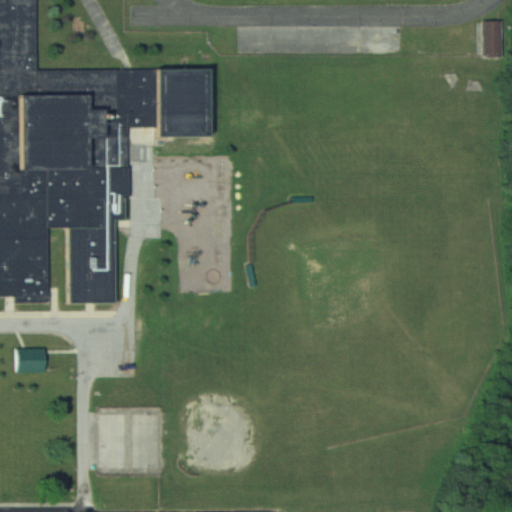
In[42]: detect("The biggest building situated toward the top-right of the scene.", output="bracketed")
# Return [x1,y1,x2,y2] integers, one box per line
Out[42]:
[480,20,504,58]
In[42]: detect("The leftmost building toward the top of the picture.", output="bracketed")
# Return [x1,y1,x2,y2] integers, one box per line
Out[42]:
[0,0,212,304]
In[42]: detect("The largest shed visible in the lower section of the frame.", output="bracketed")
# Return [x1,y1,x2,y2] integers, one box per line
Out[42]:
[14,348,49,372]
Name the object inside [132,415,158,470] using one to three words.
tennis court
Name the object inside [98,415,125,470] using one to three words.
tennis court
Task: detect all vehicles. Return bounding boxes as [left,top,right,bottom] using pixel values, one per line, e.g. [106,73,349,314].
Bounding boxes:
[120,274,129,303]
[118,364,134,370]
